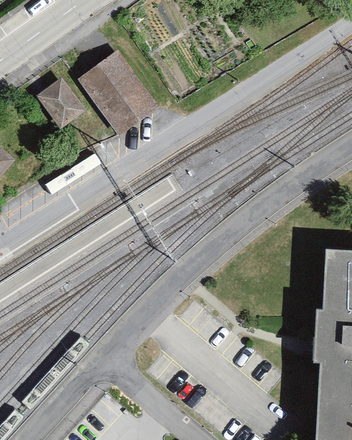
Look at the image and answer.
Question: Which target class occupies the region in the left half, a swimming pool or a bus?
bus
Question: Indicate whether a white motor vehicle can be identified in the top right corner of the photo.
No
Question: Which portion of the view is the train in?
bottom left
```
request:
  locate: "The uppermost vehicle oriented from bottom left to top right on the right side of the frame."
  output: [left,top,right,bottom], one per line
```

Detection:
[210,325,230,346]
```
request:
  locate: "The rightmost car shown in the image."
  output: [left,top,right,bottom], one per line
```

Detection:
[267,401,287,419]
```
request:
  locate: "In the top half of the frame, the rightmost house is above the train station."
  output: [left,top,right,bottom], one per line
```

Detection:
[78,51,156,134]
